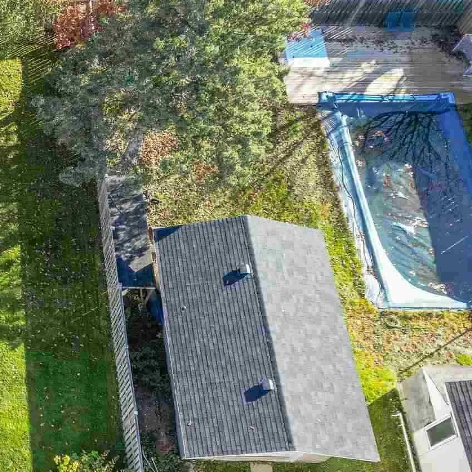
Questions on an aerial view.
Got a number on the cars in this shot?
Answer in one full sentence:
I count no cars.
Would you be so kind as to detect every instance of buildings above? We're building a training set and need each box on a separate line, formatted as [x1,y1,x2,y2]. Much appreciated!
[414,376,472,472]
[142,214,382,468]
